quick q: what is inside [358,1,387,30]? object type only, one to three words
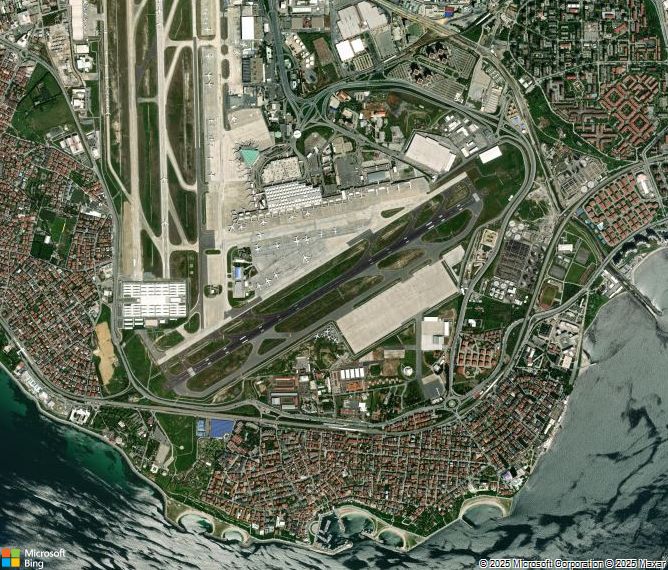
building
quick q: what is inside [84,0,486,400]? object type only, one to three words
airport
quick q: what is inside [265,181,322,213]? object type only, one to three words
building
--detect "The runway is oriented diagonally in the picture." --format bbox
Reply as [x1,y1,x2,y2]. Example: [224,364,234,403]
[160,191,483,393]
